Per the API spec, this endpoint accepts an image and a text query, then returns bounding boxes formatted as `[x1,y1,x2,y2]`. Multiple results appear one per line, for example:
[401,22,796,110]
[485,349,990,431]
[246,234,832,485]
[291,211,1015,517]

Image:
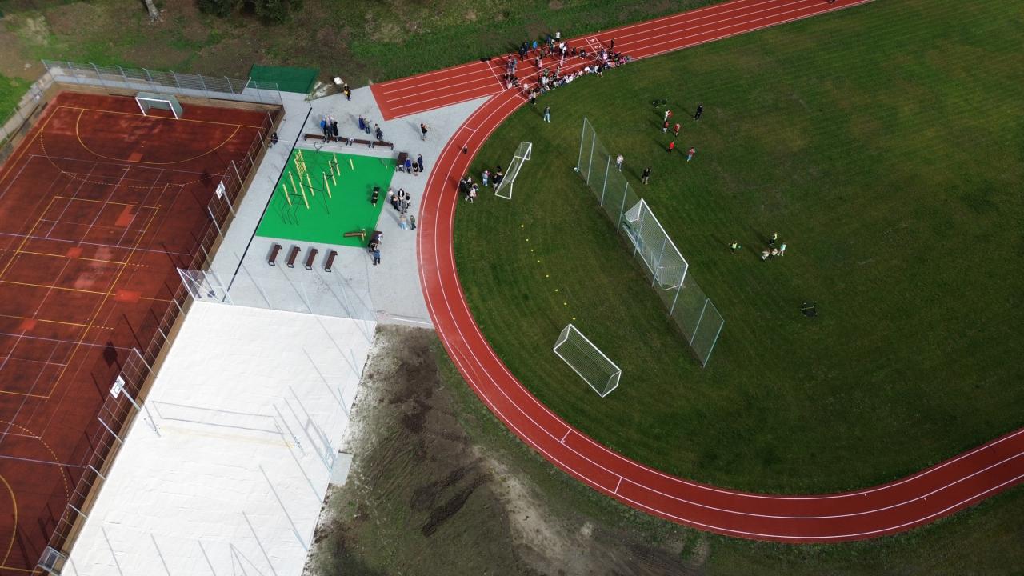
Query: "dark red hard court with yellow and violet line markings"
[0,91,278,576]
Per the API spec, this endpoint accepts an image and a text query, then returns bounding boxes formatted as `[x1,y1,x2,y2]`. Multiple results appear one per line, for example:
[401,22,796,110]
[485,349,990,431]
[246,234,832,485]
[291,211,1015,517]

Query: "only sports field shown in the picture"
[453,0,1024,496]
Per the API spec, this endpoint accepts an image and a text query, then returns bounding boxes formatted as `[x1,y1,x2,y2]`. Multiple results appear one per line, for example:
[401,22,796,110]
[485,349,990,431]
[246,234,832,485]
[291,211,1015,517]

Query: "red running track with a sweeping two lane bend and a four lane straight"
[370,0,1024,545]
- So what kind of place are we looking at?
sports ground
